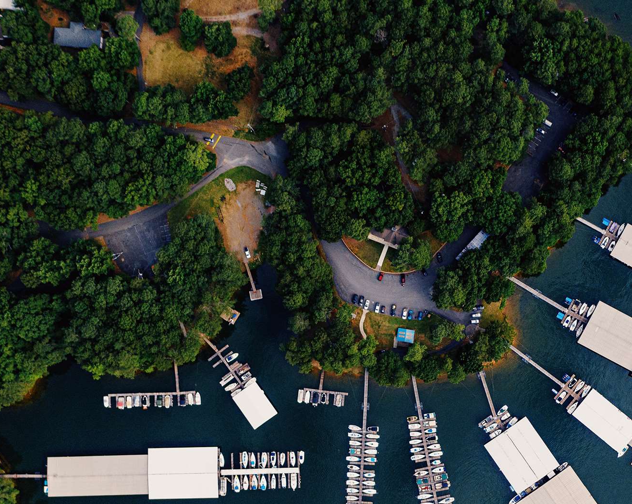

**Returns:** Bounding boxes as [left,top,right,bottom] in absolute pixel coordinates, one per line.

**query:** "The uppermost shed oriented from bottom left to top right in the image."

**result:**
[457,230,489,264]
